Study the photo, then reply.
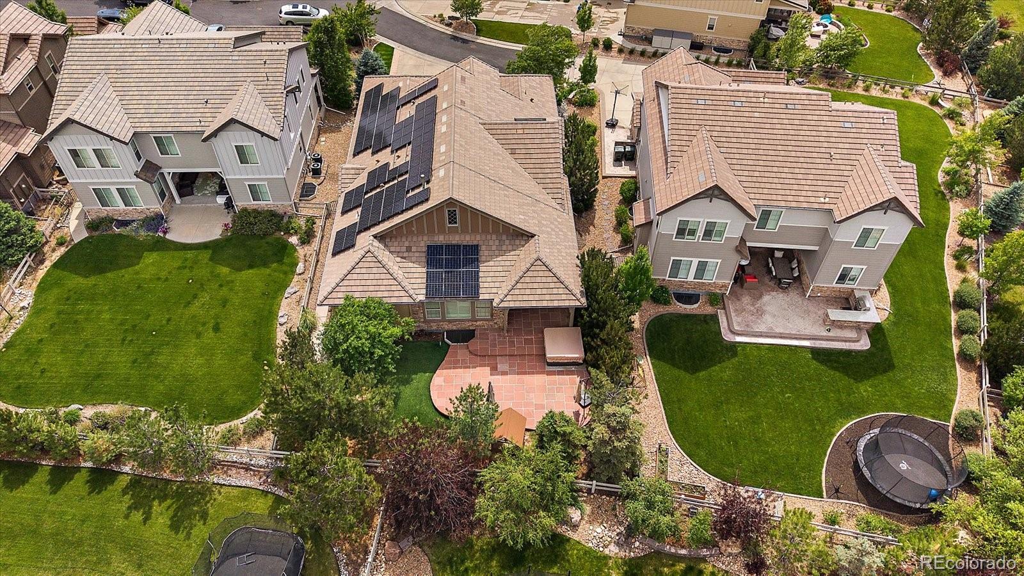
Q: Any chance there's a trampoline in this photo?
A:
Yes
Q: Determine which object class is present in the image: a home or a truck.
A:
home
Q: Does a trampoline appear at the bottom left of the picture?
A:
Yes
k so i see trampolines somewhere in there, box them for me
[192,512,316,576]
[849,412,970,514]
